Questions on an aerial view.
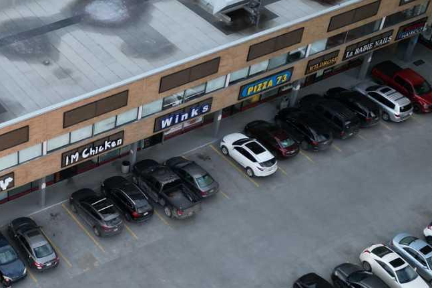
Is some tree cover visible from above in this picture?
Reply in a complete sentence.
No, there is no tree cover in the image.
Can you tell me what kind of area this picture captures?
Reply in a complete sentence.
It's a parking lot.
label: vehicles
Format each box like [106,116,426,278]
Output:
[329,261,389,288]
[352,81,414,123]
[223,133,284,177]
[72,189,129,240]
[8,217,64,271]
[0,233,26,286]
[328,89,387,130]
[167,152,225,199]
[249,121,307,164]
[371,62,432,113]
[278,109,336,152]
[392,231,432,286]
[300,96,367,144]
[134,159,204,220]
[360,243,431,288]
[103,176,161,226]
